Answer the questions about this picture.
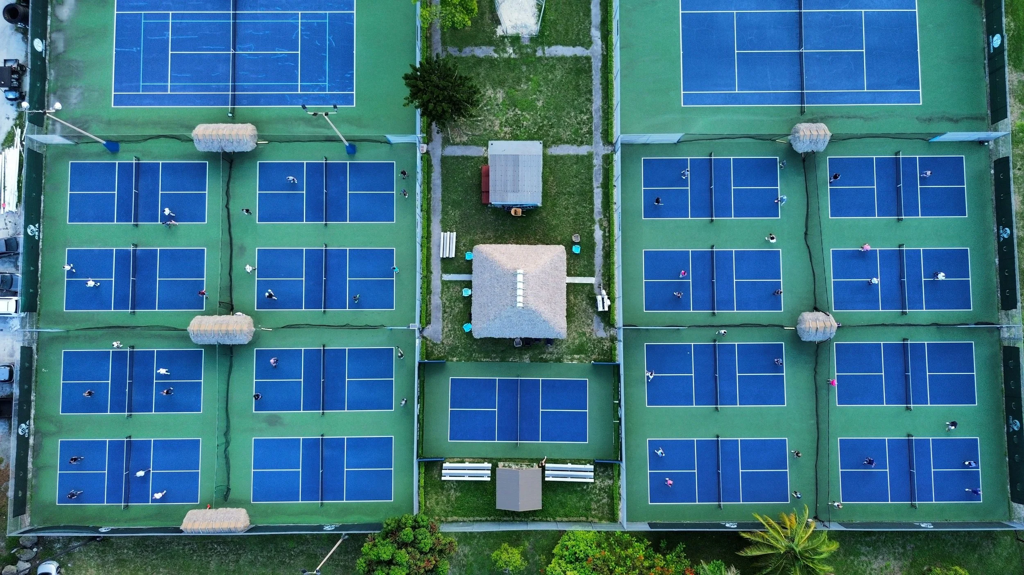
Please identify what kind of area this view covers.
sports ground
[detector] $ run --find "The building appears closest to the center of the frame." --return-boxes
[471,244,568,340]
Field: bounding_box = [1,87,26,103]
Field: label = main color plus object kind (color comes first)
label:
blue work vehicle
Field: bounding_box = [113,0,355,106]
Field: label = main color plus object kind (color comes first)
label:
blue tennis court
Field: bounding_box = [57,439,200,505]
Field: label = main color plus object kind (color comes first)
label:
blue sports court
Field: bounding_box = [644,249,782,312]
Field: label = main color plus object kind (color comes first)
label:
blue sports court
